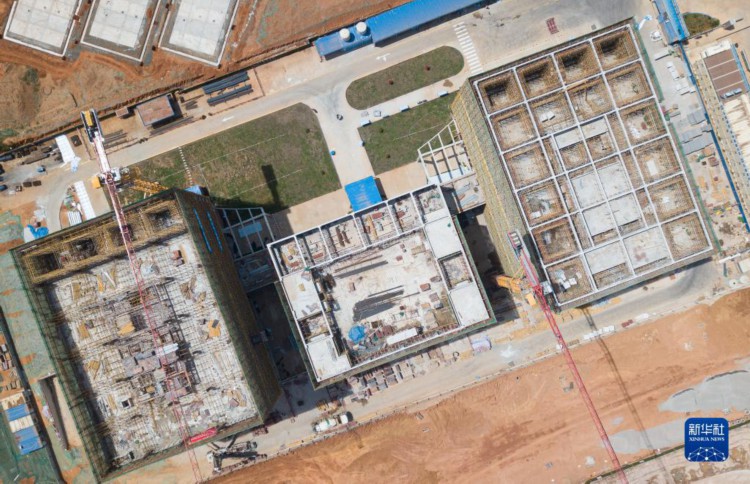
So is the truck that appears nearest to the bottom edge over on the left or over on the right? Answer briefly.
left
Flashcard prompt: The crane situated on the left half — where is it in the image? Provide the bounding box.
[78,105,205,484]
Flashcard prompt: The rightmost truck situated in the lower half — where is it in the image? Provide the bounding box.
[310,407,354,434]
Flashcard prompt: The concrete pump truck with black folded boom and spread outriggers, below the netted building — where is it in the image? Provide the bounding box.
[203,439,272,477]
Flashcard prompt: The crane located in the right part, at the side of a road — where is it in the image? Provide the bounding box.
[481,232,634,484]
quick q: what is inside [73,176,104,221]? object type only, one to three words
shed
